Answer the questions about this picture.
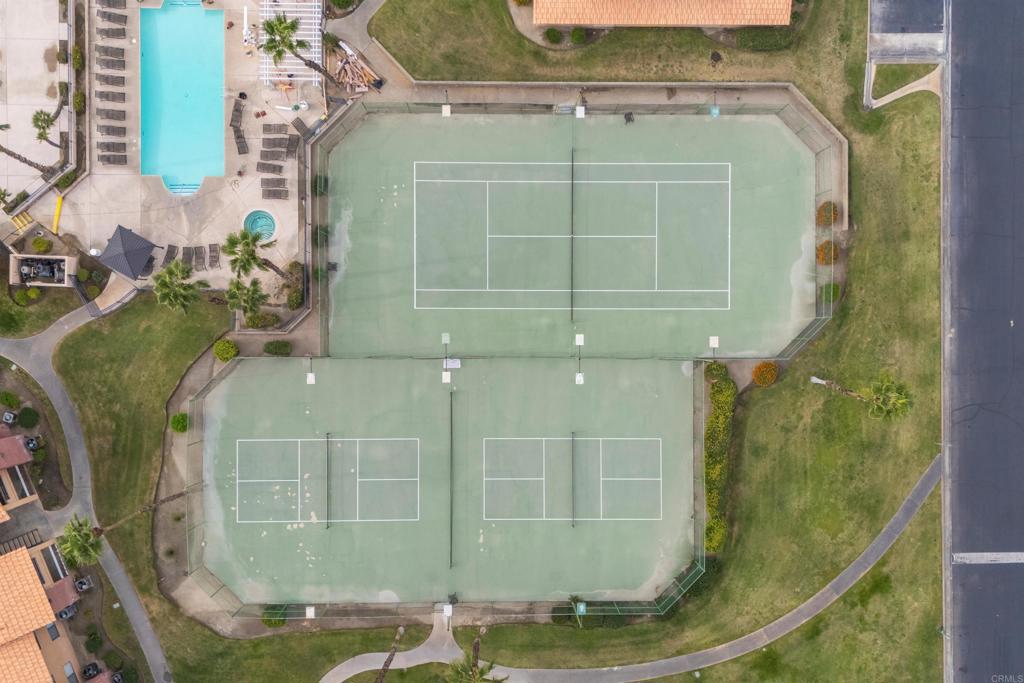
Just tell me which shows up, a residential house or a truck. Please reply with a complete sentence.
The image shows a residential house.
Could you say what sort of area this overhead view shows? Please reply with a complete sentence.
This looks like a sports ground.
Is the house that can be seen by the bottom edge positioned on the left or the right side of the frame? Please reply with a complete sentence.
The house that can be seen by the bottom edge is on the left side of the image.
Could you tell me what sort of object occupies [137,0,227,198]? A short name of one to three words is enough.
swimming pool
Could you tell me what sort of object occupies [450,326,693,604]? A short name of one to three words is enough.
sports court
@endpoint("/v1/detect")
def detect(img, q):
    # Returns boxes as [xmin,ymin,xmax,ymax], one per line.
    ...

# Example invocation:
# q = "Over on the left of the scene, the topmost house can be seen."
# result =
[0,421,56,524]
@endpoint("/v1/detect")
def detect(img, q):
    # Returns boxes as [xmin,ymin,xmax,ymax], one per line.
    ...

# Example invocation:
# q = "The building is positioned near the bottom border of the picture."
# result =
[0,538,129,683]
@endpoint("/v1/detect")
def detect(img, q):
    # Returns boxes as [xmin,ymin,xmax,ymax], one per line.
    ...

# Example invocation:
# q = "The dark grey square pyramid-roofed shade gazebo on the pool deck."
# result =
[98,224,176,285]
